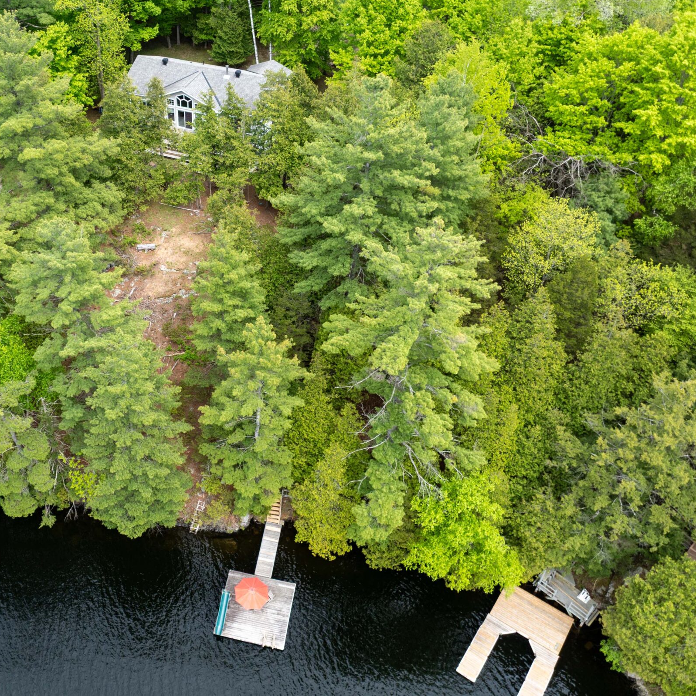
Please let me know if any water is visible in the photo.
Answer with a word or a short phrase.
Yes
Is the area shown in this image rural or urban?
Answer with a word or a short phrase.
rural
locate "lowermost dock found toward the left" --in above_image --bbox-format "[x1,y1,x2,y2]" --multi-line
[215,570,295,654]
